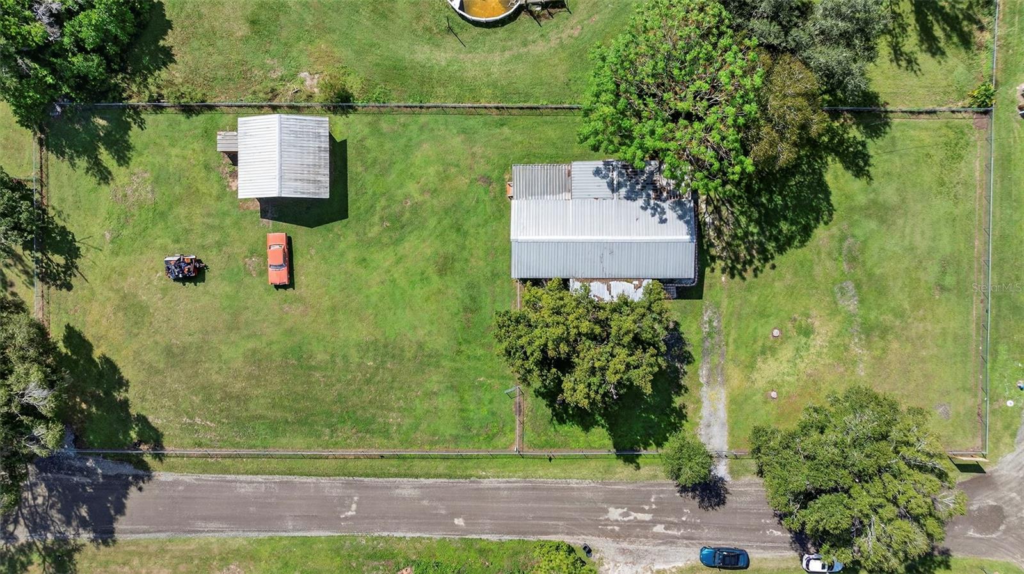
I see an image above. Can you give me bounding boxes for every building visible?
[238,113,332,198]
[511,199,699,279]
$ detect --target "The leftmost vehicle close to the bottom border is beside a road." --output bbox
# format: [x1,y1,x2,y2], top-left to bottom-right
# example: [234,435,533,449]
[699,545,750,571]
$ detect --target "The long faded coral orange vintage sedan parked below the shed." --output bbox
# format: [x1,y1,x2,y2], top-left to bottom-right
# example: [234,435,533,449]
[265,232,289,285]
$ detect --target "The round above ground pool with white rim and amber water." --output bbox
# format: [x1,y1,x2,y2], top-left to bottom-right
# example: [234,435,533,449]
[448,0,523,27]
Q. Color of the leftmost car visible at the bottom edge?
blue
